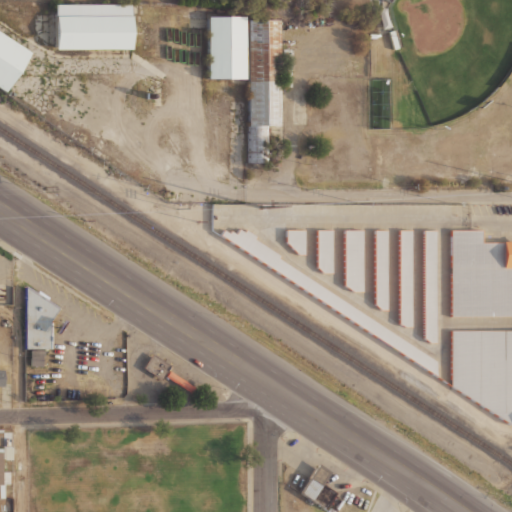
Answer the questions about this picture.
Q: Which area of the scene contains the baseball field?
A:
top right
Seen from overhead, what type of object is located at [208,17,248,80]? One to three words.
barn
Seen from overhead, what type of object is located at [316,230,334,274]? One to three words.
building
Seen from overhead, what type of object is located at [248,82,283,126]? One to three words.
shed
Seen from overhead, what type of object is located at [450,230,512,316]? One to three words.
building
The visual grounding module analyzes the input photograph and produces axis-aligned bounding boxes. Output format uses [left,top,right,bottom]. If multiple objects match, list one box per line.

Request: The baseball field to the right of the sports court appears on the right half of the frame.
[395,0,512,124]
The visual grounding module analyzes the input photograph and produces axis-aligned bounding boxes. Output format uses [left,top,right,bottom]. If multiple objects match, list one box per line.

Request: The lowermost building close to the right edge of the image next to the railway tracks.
[450,331,512,424]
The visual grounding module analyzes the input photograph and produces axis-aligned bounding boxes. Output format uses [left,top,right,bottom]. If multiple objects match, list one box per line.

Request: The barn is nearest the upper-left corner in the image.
[0,32,32,93]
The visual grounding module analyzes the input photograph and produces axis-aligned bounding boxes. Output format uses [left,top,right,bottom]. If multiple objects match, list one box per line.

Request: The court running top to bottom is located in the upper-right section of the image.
[370,78,391,128]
